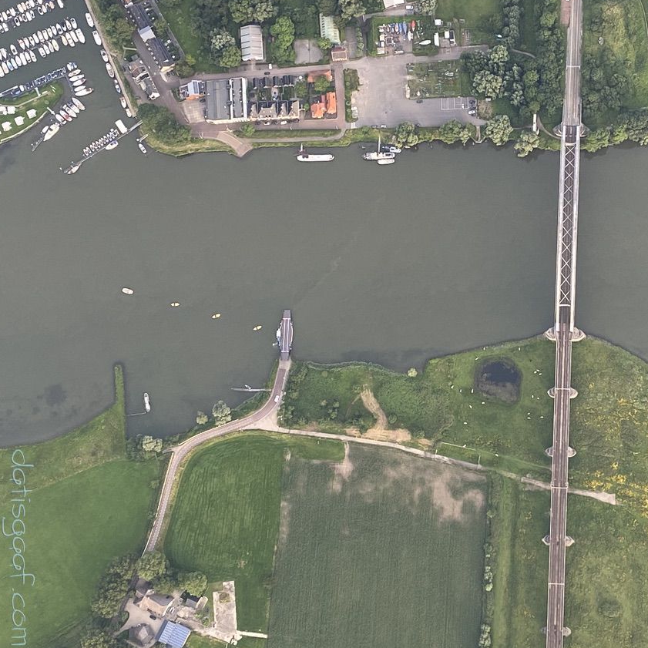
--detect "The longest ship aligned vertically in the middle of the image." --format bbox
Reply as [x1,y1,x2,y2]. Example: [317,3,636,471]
[273,311,293,359]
